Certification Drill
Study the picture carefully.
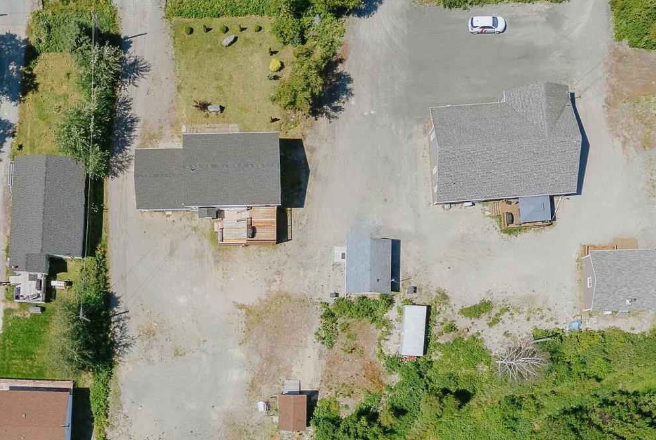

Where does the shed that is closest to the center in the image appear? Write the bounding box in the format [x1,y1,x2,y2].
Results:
[344,237,402,295]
